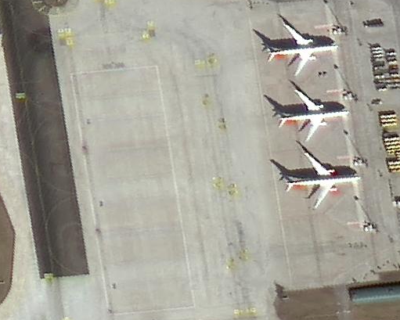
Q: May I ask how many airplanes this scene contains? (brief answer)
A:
3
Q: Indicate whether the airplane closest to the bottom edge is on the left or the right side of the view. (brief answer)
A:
right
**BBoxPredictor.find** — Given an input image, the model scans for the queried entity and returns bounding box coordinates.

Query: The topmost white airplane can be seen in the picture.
[269,22,338,80]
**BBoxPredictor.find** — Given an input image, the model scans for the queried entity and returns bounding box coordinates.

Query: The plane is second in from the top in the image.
[281,88,350,146]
